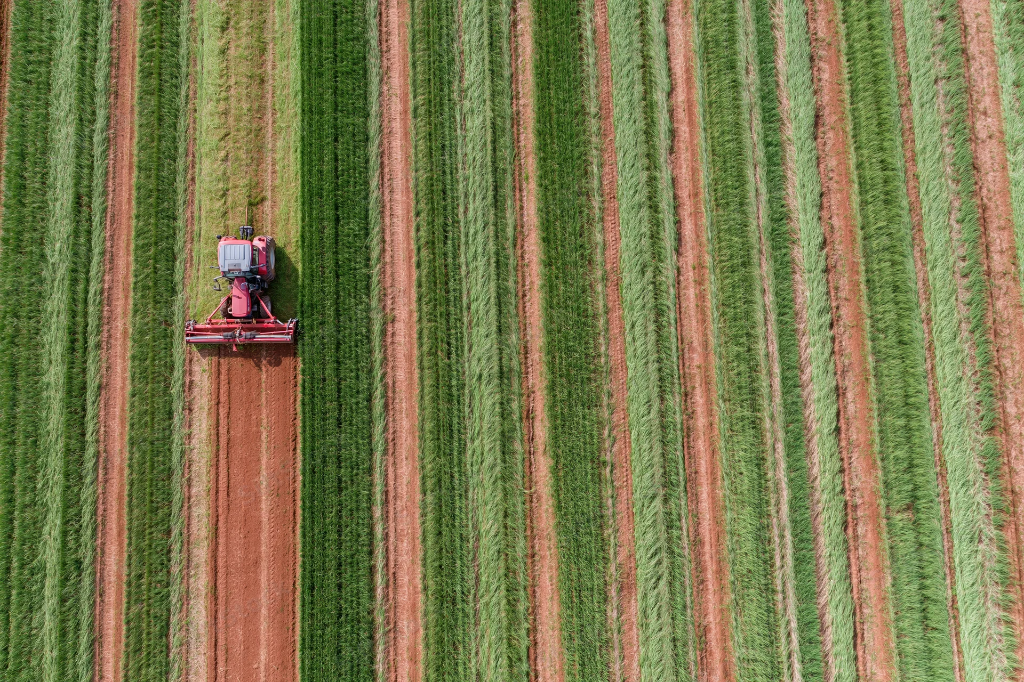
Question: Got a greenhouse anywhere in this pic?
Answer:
No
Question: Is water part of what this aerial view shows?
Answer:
No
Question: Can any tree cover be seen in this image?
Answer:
No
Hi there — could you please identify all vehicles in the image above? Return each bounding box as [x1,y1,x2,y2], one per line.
[209,206,278,324]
